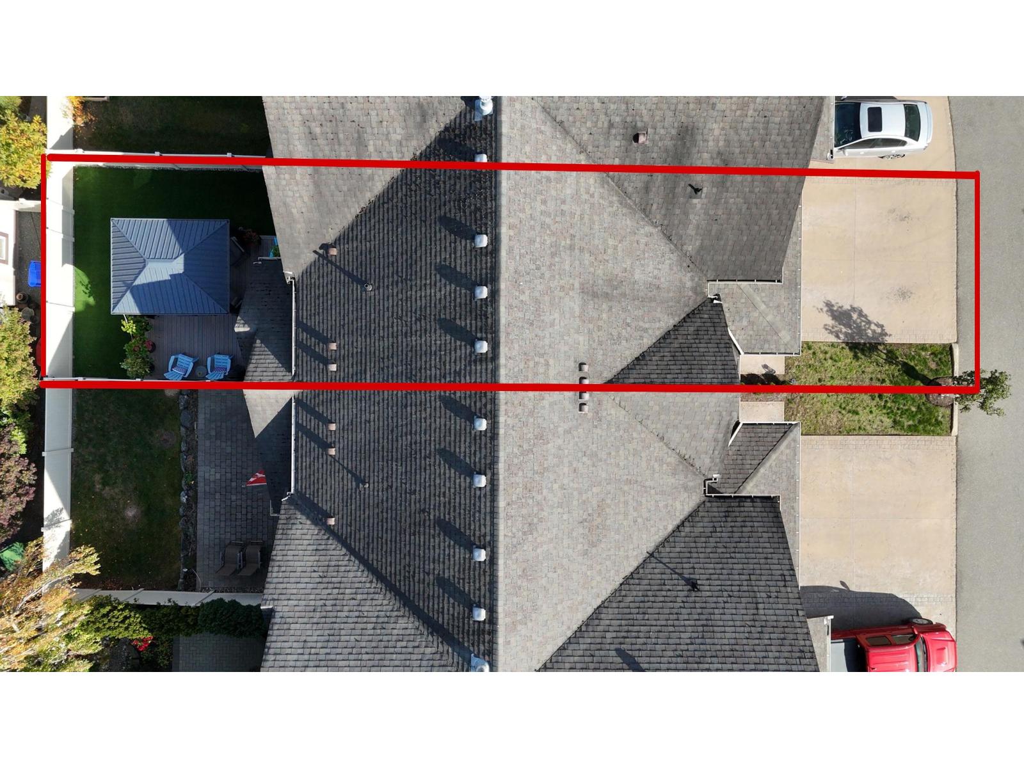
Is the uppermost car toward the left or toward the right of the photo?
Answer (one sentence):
The uppermost car is on the right side of the image.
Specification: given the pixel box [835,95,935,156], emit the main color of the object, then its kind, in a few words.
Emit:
white car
